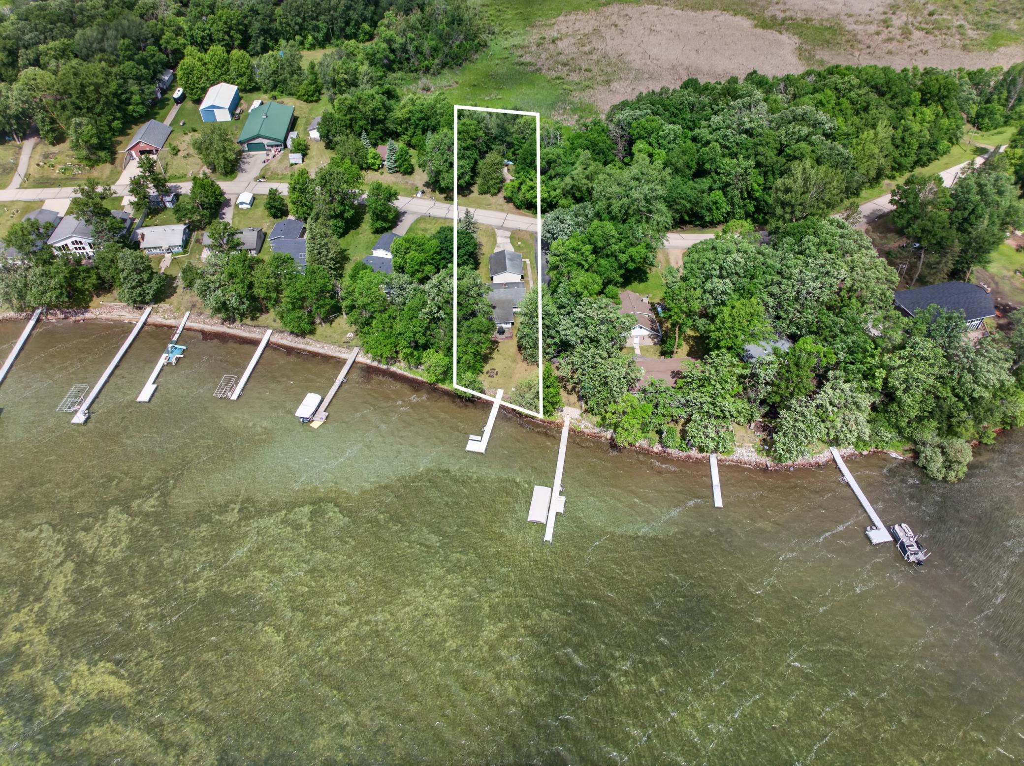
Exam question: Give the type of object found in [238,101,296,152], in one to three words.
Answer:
building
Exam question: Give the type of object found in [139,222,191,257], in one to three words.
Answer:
house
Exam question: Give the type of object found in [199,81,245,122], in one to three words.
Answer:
barn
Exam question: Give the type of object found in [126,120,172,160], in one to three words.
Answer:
building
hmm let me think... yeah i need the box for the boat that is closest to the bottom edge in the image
[891,524,927,567]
